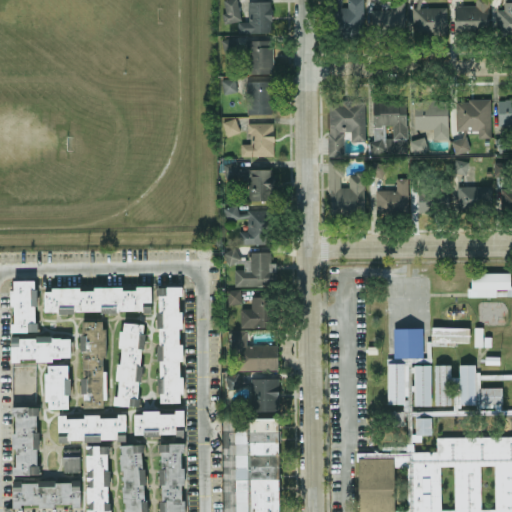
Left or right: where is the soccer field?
left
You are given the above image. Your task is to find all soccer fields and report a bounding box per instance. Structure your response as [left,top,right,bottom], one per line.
[0,0,215,248]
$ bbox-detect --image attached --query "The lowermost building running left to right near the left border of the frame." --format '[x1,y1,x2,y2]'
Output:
[12,481,81,510]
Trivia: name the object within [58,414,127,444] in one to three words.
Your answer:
building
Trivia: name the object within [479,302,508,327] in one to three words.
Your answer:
sports court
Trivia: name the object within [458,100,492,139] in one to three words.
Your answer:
house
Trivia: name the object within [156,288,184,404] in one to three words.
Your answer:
building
